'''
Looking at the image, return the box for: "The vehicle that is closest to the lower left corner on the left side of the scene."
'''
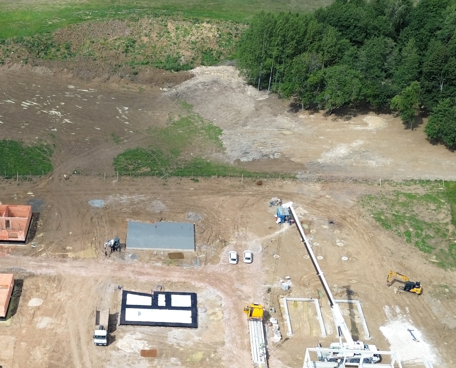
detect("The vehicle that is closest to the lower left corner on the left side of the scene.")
[92,311,109,344]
